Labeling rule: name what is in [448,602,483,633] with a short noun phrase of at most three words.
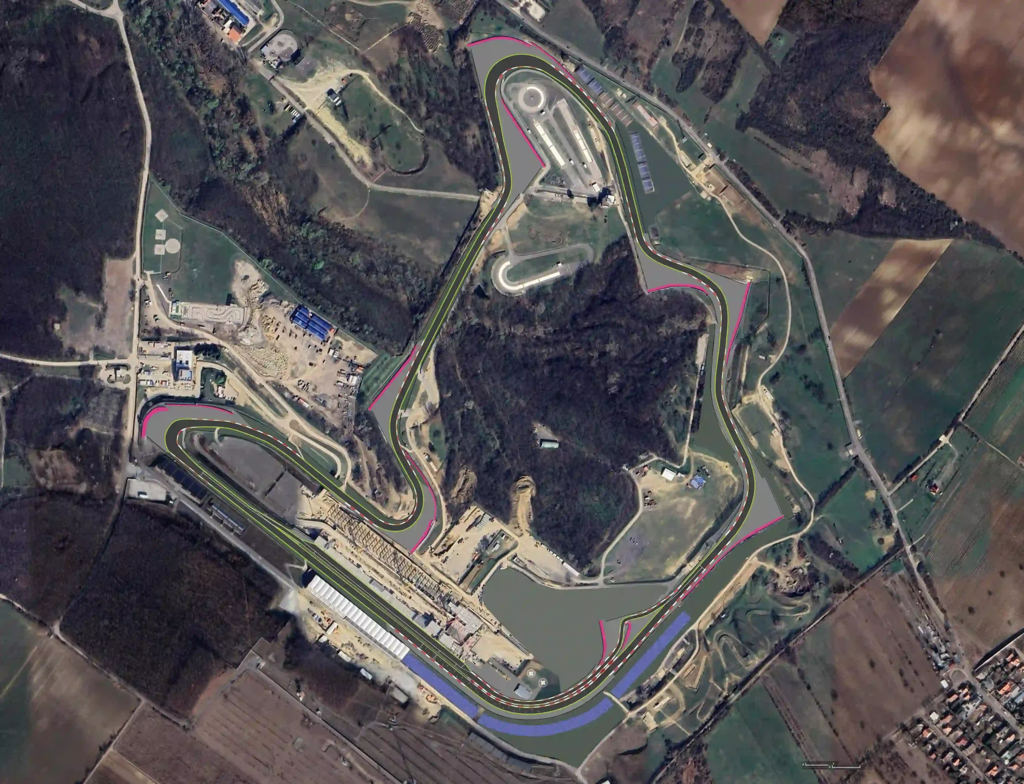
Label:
building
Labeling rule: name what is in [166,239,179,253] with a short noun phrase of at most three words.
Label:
helipad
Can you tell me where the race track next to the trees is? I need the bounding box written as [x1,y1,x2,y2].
[167,55,755,714]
